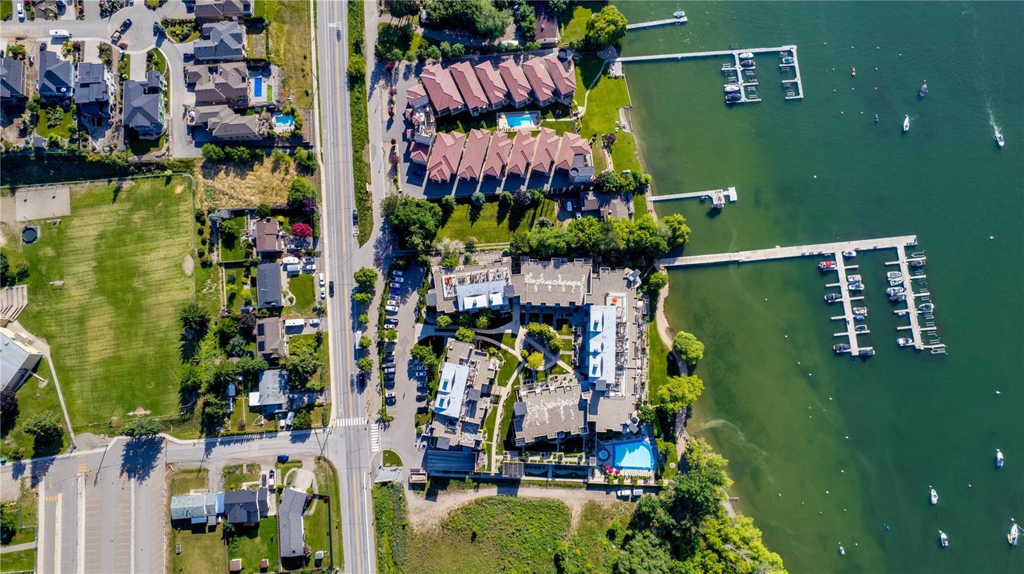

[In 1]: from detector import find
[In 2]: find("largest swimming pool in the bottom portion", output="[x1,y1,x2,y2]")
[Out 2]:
[592,438,659,477]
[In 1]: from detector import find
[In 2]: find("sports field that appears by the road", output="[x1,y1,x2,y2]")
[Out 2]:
[0,176,196,427]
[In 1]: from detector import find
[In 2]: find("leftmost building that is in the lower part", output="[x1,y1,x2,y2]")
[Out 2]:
[0,323,44,393]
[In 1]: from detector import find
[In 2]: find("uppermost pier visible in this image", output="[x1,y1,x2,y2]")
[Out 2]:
[626,16,688,29]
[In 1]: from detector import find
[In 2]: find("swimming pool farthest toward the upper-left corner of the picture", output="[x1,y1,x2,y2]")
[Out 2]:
[247,62,285,104]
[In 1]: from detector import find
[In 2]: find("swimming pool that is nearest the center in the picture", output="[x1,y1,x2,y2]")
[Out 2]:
[497,111,541,132]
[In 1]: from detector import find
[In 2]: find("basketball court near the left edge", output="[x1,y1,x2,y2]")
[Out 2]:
[15,187,70,221]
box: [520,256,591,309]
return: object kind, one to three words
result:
building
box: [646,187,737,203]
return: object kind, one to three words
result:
pier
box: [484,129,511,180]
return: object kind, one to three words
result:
house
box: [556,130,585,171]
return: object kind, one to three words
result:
house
